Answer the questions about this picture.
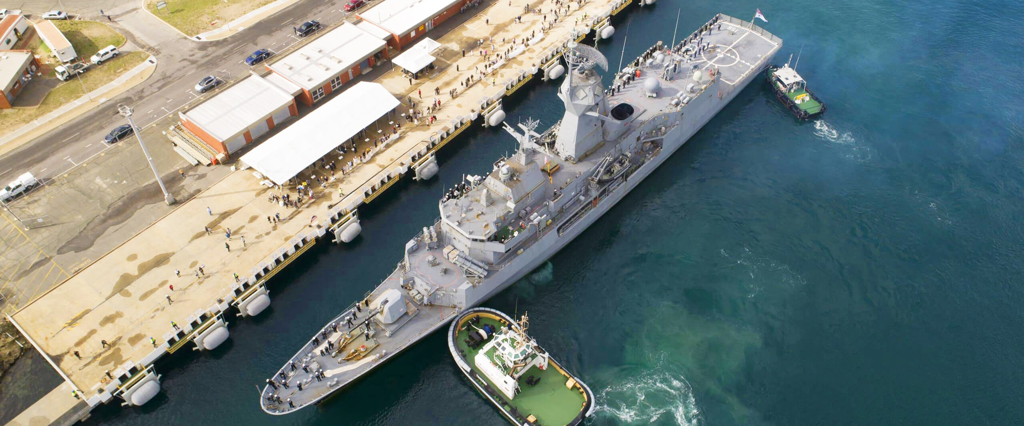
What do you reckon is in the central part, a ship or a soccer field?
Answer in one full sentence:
The feature located in the central part is a ship.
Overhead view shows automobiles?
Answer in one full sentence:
Yes, you can see an automobile in this photo.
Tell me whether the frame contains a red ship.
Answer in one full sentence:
No, the picture doesn't show any red ship.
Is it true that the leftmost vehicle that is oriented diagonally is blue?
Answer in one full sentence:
No, the leftmost vehicle that is oriented diagonally is white.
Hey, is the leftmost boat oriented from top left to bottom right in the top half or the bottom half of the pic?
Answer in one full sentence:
The leftmost boat oriented from top left to bottom right is in the bottom half of the image.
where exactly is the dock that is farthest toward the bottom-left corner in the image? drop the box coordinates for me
[5,382,86,426]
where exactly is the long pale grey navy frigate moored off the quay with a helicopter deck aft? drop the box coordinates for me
[246,6,783,419]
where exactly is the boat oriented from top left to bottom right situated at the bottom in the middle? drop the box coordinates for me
[442,303,595,426]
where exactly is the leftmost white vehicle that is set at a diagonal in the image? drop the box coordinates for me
[0,172,33,202]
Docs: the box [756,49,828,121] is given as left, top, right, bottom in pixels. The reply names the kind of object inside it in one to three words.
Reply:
boat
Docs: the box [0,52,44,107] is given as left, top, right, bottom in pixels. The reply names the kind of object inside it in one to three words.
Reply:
house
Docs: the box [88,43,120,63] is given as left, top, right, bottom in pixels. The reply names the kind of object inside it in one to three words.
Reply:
car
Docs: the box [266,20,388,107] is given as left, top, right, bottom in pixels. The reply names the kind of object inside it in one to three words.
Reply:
shed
